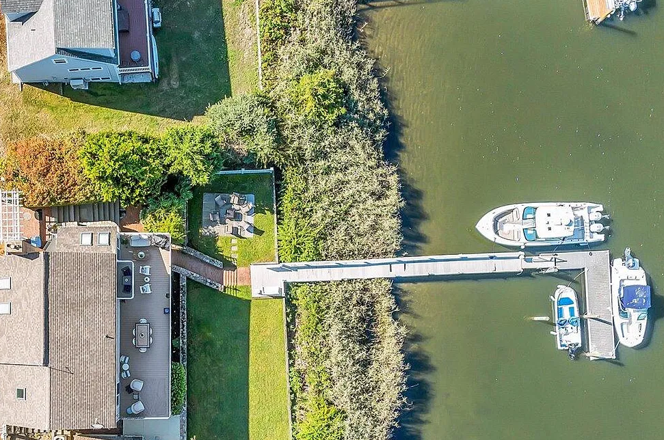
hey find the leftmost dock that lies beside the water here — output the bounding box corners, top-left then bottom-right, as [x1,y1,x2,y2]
[249,249,536,297]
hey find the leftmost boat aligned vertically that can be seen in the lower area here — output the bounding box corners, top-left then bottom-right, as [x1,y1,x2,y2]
[548,287,581,360]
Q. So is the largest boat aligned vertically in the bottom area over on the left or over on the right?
right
